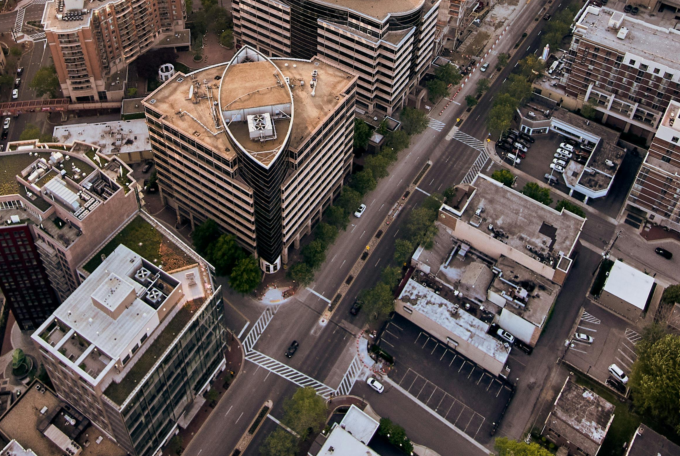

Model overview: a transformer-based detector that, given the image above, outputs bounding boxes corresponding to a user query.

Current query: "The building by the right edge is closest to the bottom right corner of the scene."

[624,423,680,456]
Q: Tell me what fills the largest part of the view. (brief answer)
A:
buildings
